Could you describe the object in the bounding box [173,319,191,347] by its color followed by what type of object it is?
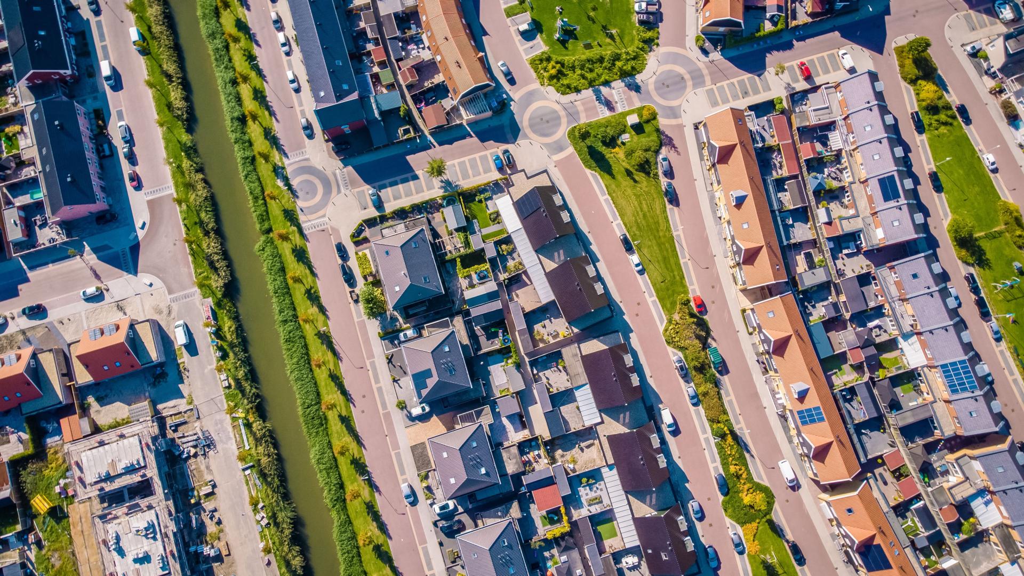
white vehicle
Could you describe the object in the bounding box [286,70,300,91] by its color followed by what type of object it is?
white car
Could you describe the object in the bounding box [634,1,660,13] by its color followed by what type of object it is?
white vehicle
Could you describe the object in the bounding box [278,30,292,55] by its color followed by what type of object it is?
white car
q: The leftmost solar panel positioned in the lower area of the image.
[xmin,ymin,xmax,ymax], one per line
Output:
[412,369,432,399]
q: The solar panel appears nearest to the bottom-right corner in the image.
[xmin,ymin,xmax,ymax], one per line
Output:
[857,544,892,572]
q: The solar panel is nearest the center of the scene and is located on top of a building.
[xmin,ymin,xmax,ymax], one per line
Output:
[515,189,541,219]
